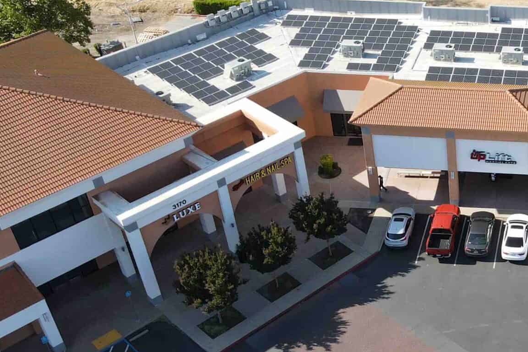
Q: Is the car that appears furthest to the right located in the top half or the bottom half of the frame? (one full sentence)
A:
The car that appears furthest to the right sits in the bottom half of the picture.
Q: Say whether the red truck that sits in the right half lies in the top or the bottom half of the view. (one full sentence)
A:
The red truck that sits in the right half is in the bottom half of the image.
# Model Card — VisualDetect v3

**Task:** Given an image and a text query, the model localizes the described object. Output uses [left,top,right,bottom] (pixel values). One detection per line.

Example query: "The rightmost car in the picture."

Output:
[503,214,528,261]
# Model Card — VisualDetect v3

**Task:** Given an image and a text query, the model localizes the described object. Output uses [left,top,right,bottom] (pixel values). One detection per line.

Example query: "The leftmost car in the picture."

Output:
[384,206,419,248]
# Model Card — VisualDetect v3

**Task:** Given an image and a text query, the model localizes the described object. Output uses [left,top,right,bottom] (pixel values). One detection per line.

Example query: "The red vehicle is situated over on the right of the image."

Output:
[427,205,460,258]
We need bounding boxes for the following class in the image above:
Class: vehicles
[384,206,419,248]
[503,214,528,261]
[465,211,497,258]
[427,205,460,258]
